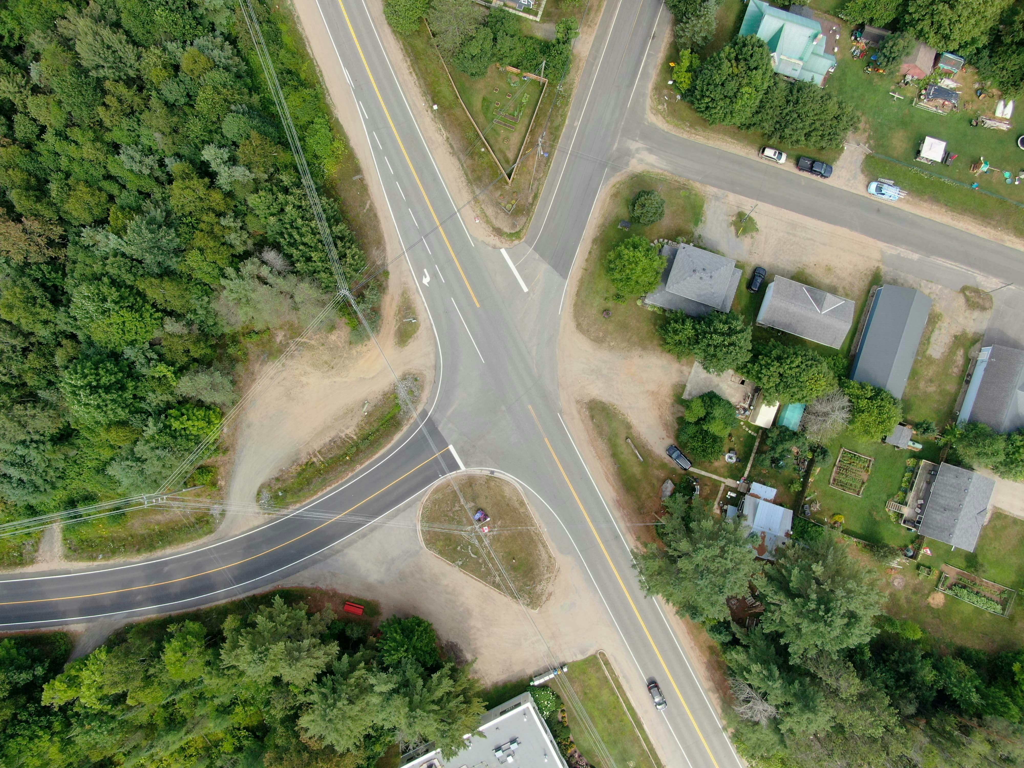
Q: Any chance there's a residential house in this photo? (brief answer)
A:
Yes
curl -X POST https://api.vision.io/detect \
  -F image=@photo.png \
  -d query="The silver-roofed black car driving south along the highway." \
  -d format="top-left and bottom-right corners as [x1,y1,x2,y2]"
[645,676,669,713]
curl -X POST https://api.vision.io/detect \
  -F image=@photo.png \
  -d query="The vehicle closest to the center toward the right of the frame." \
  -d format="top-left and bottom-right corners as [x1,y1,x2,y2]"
[666,442,695,474]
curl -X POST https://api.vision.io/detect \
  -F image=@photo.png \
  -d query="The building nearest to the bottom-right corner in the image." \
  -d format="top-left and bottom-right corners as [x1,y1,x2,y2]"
[885,460,996,553]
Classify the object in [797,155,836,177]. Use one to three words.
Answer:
truck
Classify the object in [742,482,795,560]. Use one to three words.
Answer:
building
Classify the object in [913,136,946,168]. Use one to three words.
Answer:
tent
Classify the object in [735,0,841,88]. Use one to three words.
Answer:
house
